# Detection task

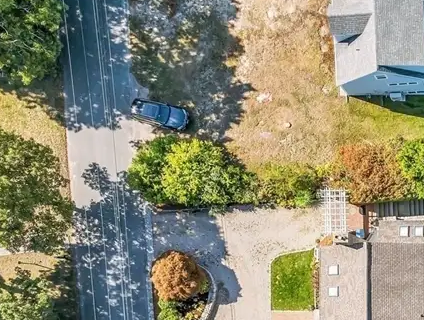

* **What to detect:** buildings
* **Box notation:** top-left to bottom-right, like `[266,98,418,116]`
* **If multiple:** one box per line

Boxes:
[329,0,424,92]
[310,215,424,320]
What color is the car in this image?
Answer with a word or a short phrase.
blue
